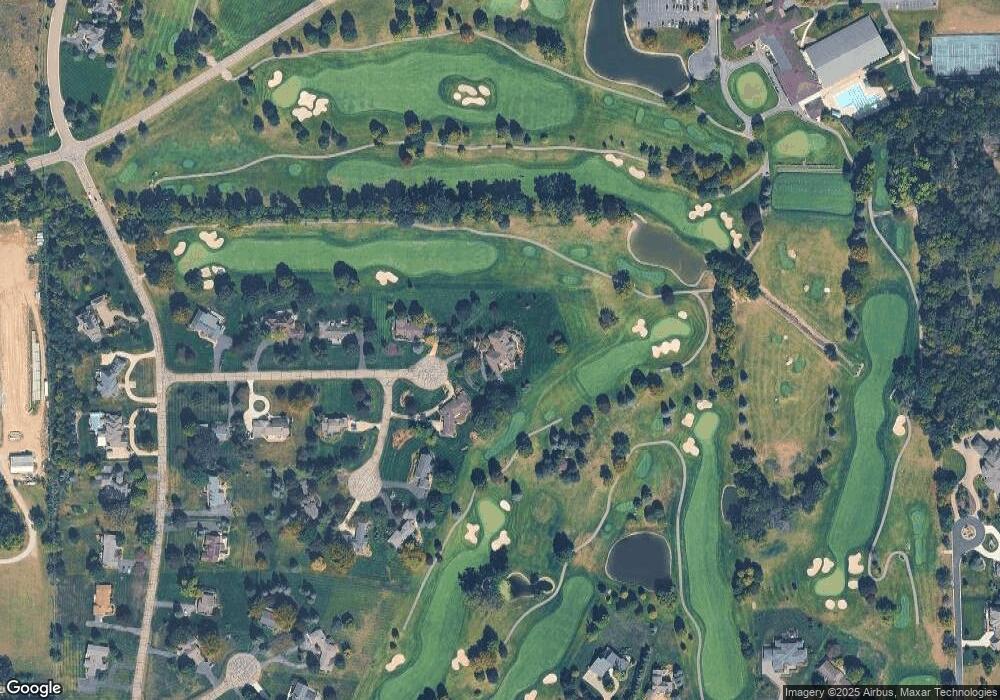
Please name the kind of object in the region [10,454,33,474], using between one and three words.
shed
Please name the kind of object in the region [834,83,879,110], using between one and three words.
swimming pool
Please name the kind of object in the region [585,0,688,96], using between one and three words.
pond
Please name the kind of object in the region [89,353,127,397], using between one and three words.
house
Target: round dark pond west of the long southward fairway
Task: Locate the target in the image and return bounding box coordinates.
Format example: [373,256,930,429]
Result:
[606,532,671,590]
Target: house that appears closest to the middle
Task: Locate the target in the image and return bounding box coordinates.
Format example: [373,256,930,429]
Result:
[481,328,520,373]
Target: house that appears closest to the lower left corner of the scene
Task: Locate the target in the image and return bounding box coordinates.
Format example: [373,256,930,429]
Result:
[82,644,110,678]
